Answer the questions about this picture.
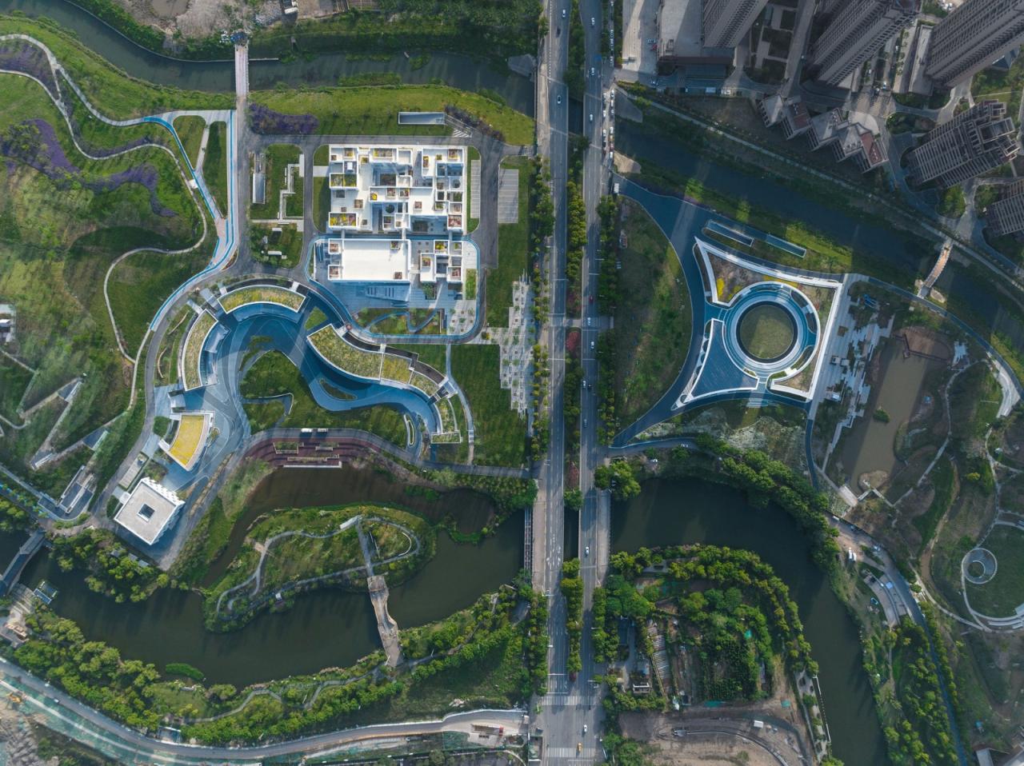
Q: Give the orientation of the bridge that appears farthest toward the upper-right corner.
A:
from top to bottom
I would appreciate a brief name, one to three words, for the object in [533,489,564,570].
bridge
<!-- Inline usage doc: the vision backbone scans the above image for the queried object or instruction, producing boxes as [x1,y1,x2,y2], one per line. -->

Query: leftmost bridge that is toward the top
[537,72,570,149]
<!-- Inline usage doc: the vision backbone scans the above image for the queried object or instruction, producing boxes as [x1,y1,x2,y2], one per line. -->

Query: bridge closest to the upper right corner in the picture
[582,72,616,149]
